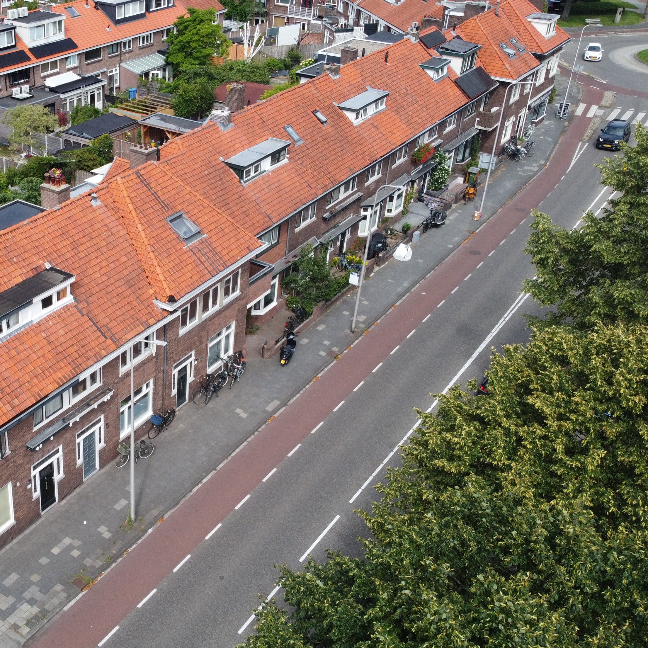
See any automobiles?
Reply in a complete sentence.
Yes, an automobile can be made out from above.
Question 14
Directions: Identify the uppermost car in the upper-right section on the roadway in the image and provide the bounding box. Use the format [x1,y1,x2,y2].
[585,41,607,61]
